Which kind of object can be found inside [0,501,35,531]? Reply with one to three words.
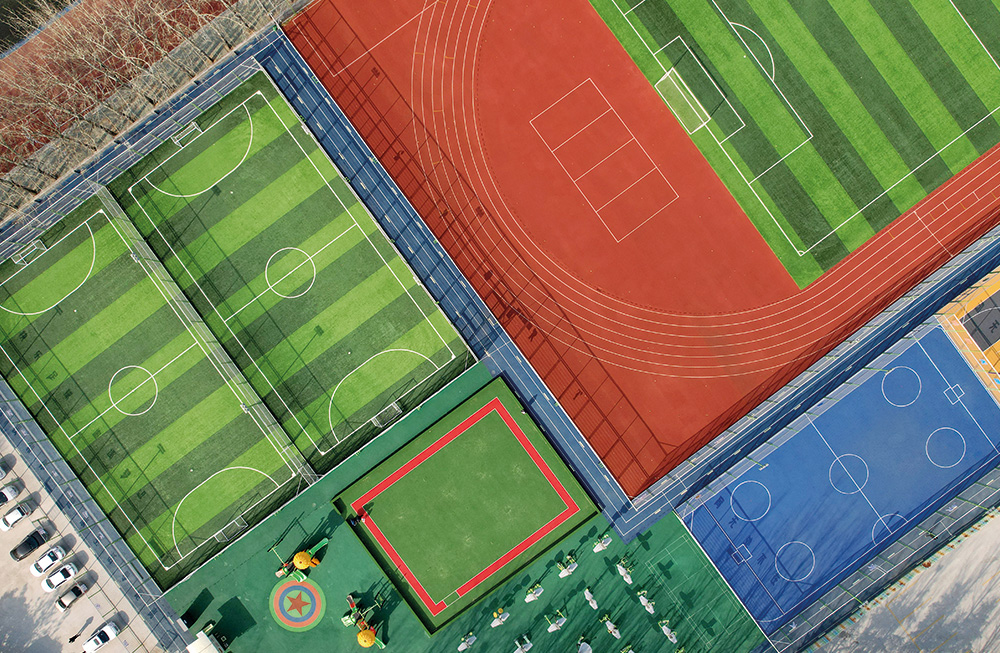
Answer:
car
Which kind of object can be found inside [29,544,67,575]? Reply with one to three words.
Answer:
car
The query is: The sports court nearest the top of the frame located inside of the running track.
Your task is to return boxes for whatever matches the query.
[529,78,680,242]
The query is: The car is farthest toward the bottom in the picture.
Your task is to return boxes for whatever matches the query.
[82,619,123,653]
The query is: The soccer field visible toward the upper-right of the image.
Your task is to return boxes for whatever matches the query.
[589,0,1000,289]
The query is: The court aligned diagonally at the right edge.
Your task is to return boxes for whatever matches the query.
[682,317,1000,634]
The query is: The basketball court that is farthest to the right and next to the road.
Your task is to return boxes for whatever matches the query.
[936,266,1000,403]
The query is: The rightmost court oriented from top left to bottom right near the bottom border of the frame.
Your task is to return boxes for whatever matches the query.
[646,535,751,649]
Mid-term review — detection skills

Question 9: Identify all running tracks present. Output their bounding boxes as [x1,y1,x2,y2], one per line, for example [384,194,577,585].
[277,0,1000,498]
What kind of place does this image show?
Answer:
sports ground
